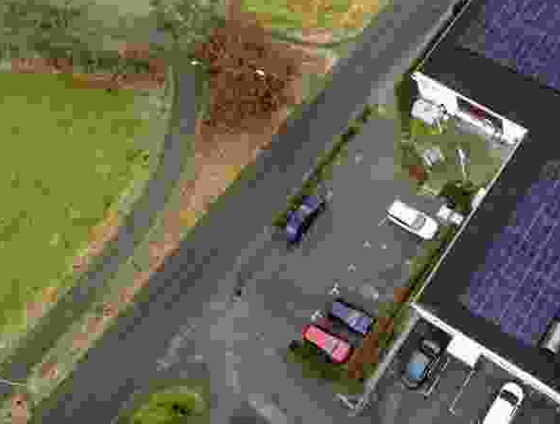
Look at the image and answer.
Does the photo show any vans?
Yes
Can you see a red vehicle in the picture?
Yes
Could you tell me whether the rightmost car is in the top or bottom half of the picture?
bottom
